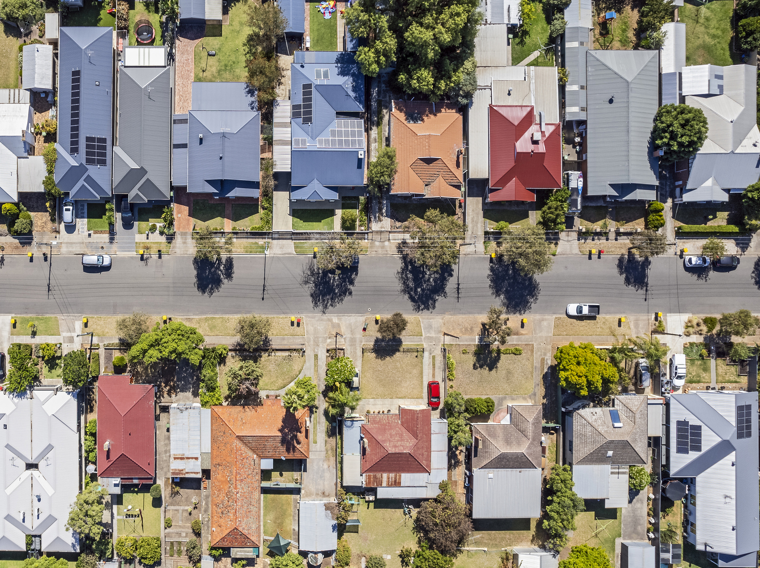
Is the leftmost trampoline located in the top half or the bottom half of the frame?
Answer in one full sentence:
It is in the top half that the leftmost trampoline appears.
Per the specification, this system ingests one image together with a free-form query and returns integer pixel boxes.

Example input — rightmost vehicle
[712,254,741,268]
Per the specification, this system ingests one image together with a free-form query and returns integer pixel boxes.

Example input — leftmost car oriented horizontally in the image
[82,253,113,268]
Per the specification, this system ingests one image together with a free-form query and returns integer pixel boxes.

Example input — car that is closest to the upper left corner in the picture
[60,196,76,225]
